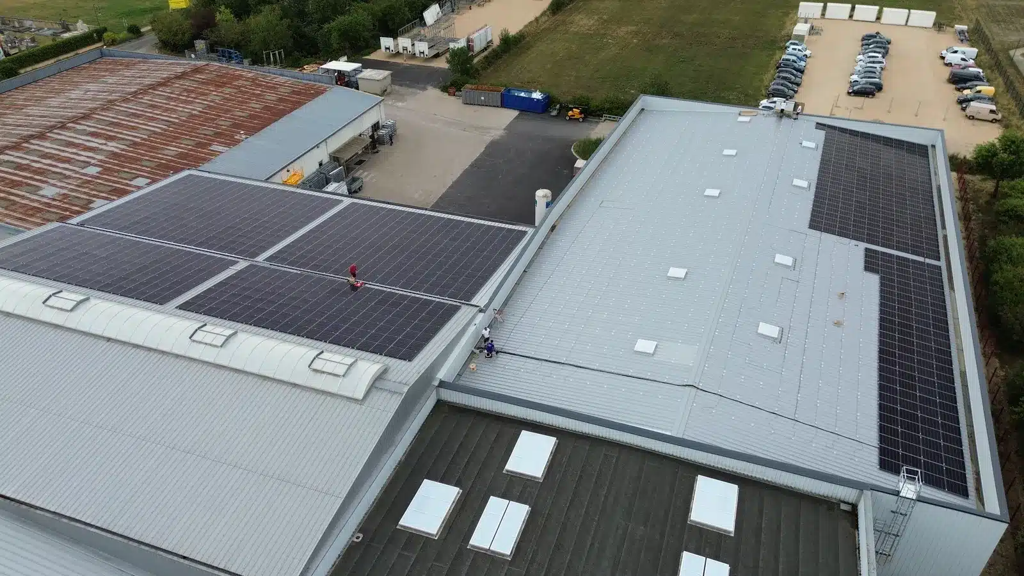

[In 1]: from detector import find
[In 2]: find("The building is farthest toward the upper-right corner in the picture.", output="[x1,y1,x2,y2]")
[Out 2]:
[908,7,937,28]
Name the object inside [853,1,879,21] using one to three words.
building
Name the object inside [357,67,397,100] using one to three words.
shed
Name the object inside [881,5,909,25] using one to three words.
building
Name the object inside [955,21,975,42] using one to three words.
vehicle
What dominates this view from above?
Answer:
buildings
